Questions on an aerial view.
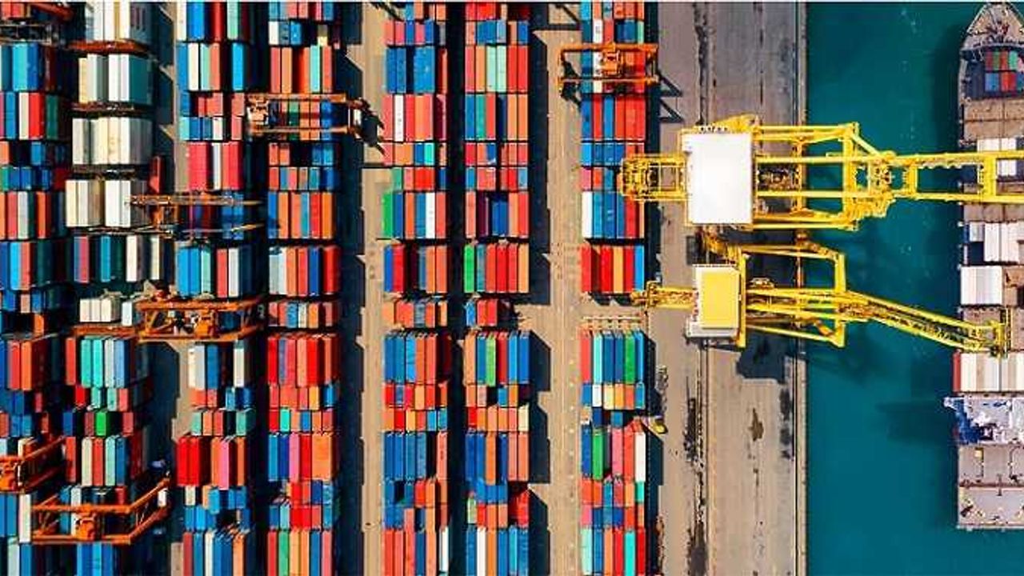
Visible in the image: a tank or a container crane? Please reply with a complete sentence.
This aerial view contains a container crane.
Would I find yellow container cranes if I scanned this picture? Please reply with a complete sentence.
Yes, the frame does contain a yellow container crane.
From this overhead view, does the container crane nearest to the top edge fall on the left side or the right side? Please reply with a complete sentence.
It is on the left.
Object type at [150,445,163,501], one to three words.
vehicle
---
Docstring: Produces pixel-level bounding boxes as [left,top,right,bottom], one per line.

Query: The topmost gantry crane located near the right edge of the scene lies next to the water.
[619,114,1024,233]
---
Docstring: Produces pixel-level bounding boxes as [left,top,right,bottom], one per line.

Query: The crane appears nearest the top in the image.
[0,7,81,67]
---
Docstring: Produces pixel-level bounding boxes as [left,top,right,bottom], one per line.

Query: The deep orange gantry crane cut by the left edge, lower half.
[0,423,70,492]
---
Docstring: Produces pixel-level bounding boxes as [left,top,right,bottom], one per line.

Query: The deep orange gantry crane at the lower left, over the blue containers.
[31,468,169,544]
